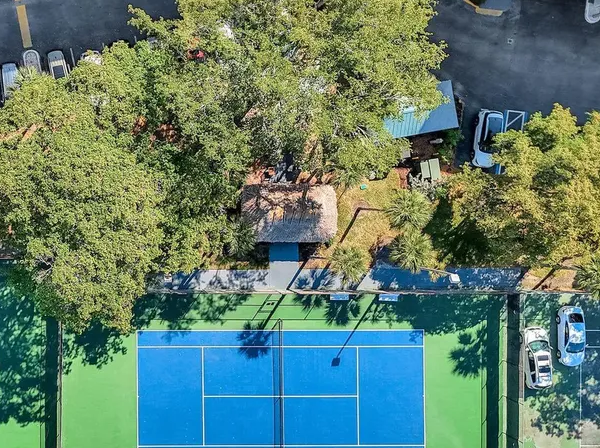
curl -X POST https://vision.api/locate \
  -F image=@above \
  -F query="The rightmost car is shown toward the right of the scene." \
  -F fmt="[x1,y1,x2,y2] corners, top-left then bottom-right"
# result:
[553,306,587,367]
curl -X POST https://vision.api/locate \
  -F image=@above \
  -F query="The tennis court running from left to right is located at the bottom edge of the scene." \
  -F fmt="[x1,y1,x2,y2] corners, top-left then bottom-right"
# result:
[63,292,506,448]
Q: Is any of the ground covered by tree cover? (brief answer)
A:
Yes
